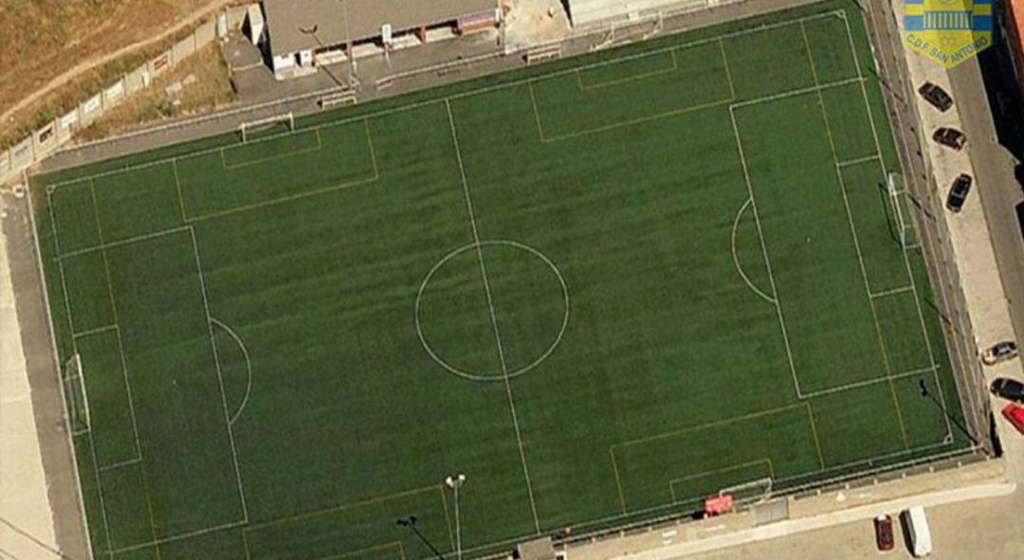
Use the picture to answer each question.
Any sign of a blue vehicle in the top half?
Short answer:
No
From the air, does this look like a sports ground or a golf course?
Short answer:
sports ground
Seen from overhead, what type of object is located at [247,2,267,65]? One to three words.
shed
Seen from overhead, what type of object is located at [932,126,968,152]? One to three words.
car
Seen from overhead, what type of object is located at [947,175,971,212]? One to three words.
car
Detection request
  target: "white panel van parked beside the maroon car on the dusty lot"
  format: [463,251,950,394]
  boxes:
[907,513,929,560]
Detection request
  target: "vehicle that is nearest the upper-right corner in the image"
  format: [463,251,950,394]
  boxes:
[919,80,954,109]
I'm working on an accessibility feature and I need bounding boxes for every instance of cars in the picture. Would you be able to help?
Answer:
[947,175,971,212]
[1005,408,1024,433]
[990,378,1024,406]
[932,126,968,152]
[919,80,954,109]
[982,339,1020,367]
[875,515,893,550]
